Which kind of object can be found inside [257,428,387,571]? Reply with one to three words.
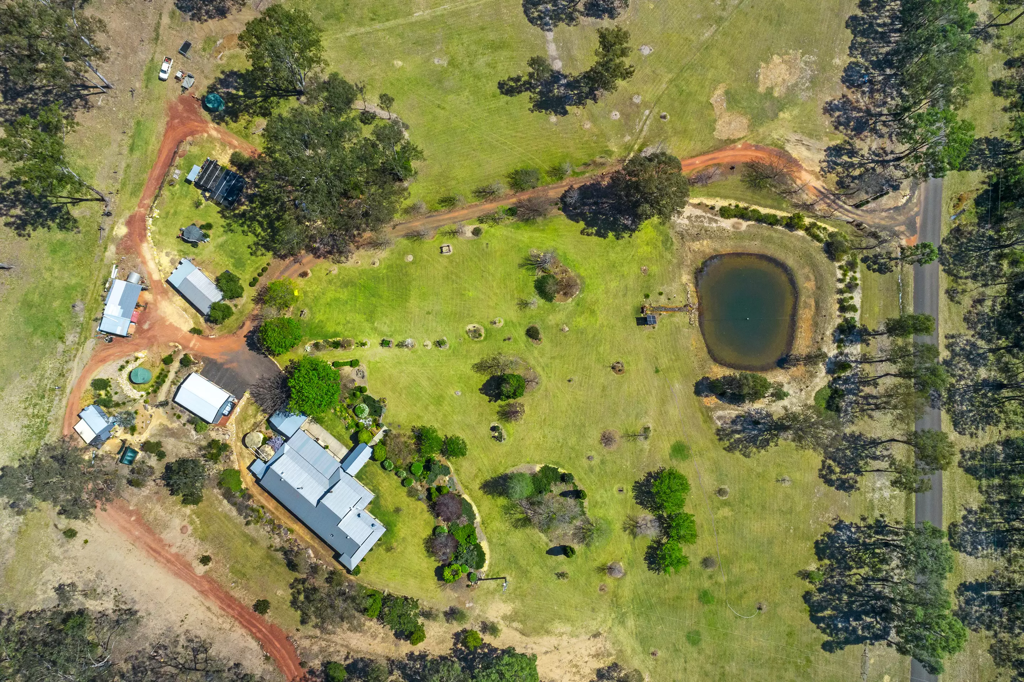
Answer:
house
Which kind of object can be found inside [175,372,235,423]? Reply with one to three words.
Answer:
building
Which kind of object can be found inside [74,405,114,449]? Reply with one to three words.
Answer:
house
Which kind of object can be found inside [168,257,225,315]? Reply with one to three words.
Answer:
shed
